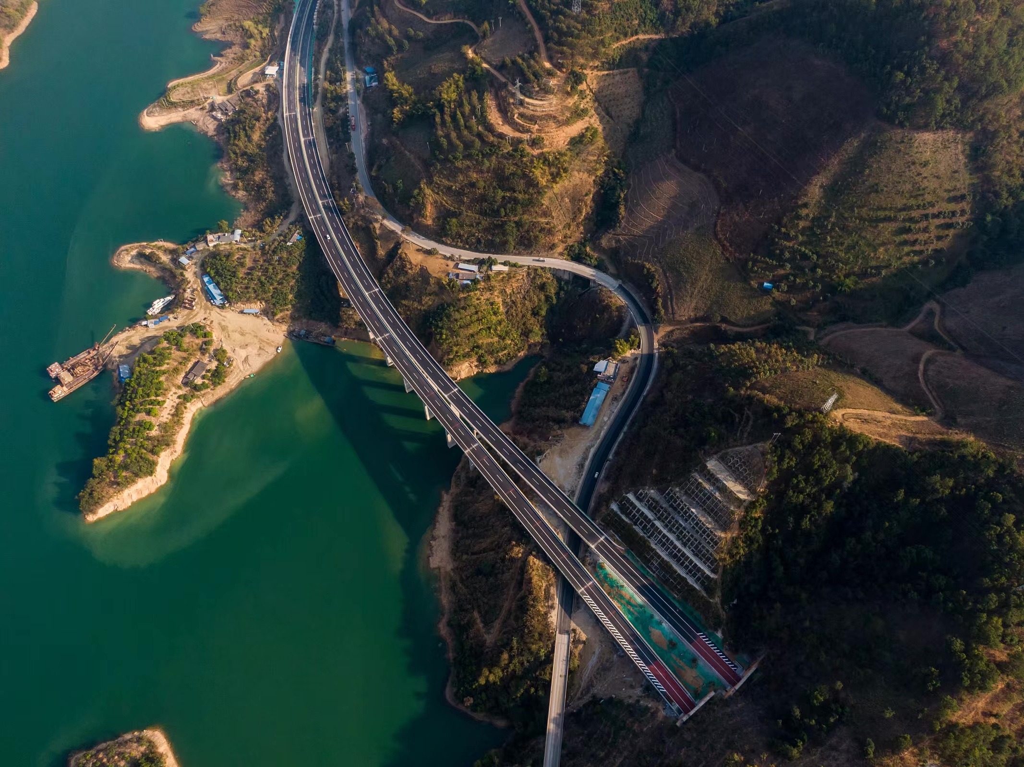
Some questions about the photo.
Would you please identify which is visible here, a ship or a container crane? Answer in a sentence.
Of the two, only a ship appears.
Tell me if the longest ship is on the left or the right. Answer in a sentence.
The longest ship sits on the left side.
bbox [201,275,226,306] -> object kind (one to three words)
building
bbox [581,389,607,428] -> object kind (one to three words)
building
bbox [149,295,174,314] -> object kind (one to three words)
boat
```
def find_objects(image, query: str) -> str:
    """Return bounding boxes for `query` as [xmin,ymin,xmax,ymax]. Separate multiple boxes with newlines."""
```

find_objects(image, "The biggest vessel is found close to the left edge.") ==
[47,324,118,400]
